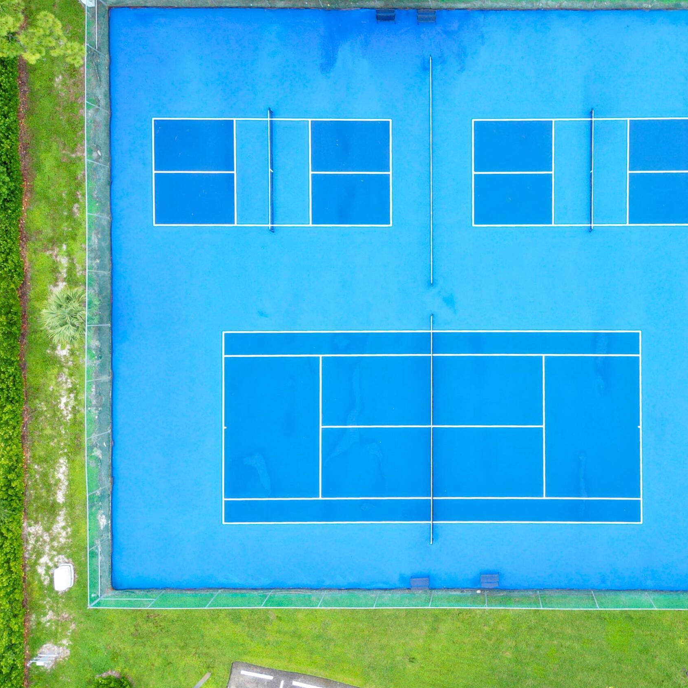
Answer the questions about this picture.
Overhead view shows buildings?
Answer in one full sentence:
No, there isn't any building down there.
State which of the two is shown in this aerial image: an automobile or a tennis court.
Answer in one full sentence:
It is a tennis court that can be seen here.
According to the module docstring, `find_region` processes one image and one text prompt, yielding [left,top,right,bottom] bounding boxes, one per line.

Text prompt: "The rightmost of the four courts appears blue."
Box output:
[471,117,688,226]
